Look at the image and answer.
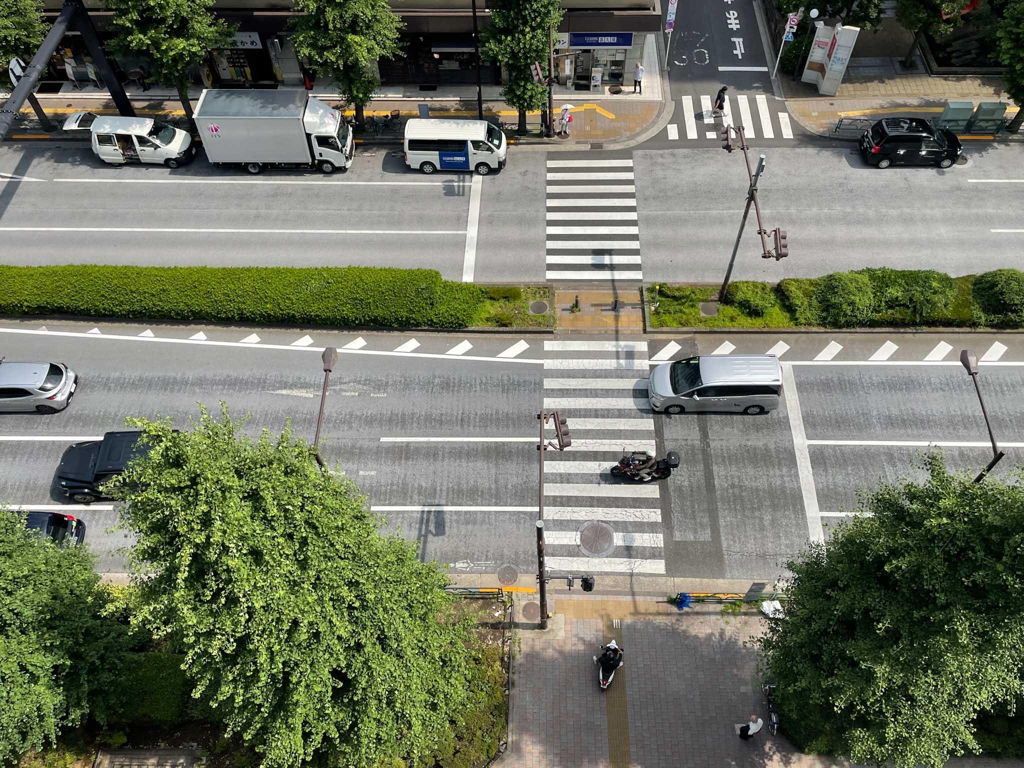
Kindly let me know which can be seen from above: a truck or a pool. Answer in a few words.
truck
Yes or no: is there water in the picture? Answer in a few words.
No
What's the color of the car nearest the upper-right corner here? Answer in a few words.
black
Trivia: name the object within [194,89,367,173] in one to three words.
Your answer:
truck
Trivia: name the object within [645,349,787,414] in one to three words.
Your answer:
car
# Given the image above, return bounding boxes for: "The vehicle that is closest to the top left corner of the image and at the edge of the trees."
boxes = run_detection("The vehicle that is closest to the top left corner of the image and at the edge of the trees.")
[64,109,198,167]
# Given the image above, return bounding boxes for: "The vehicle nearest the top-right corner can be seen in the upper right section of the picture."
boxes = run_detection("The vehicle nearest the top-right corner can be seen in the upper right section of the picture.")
[863,116,969,168]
